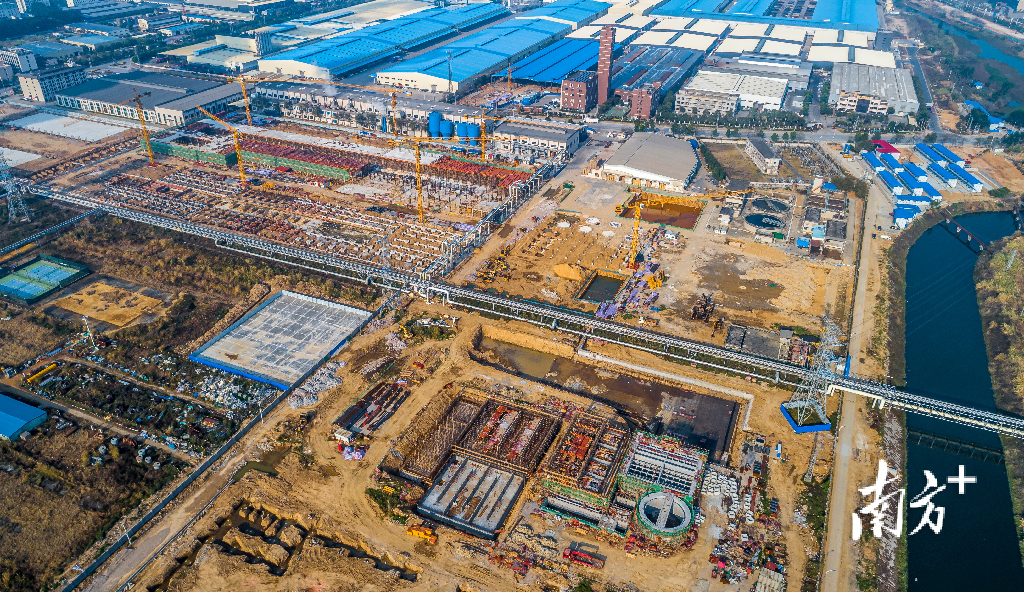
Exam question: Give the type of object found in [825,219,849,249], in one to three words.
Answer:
house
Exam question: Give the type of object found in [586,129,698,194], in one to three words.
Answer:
building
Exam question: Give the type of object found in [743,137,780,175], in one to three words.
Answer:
building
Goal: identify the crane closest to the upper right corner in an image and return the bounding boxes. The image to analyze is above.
[614,188,755,271]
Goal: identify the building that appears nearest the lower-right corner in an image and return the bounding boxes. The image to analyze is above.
[753,564,790,592]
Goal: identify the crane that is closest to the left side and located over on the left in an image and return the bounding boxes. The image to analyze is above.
[63,89,159,168]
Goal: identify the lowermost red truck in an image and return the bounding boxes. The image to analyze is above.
[563,548,604,570]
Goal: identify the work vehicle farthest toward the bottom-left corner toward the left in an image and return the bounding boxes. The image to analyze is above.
[296,410,309,430]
